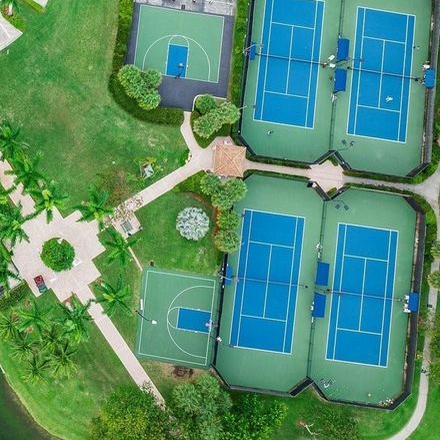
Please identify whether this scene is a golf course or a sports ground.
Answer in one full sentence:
The area seen from above is a sports ground.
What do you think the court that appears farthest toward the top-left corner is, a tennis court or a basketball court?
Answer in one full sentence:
What you see as the court that appears farthest toward the top-left corner is a basketball court.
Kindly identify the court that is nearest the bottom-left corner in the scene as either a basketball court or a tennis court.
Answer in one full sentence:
It looks like the court that is nearest the bottom-left corner is a basketball court.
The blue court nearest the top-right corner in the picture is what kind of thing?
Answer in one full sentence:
The blue court nearest the top-right corner in the image is a tennis court.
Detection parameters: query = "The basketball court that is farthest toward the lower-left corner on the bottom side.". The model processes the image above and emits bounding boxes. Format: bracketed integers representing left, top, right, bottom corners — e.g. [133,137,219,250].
[135,268,224,369]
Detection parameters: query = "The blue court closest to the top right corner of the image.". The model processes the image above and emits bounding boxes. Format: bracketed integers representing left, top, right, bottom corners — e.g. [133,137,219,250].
[347,7,419,143]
